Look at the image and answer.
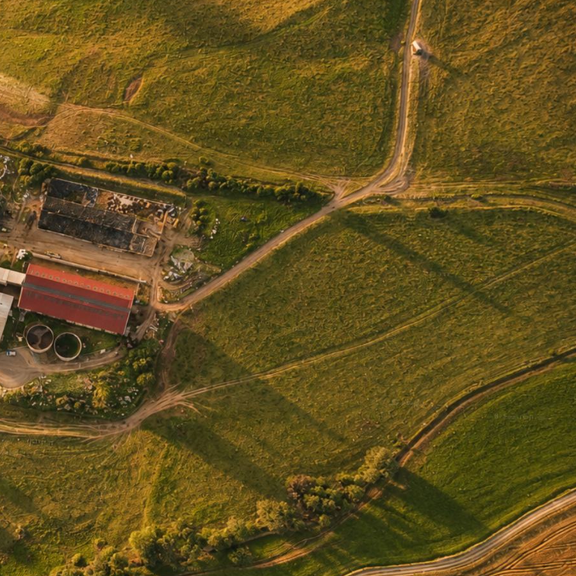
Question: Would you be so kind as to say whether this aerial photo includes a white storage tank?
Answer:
No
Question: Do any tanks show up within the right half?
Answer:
No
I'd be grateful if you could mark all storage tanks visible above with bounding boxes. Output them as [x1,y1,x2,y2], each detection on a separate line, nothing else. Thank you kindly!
[25,324,54,352]
[54,333,82,361]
